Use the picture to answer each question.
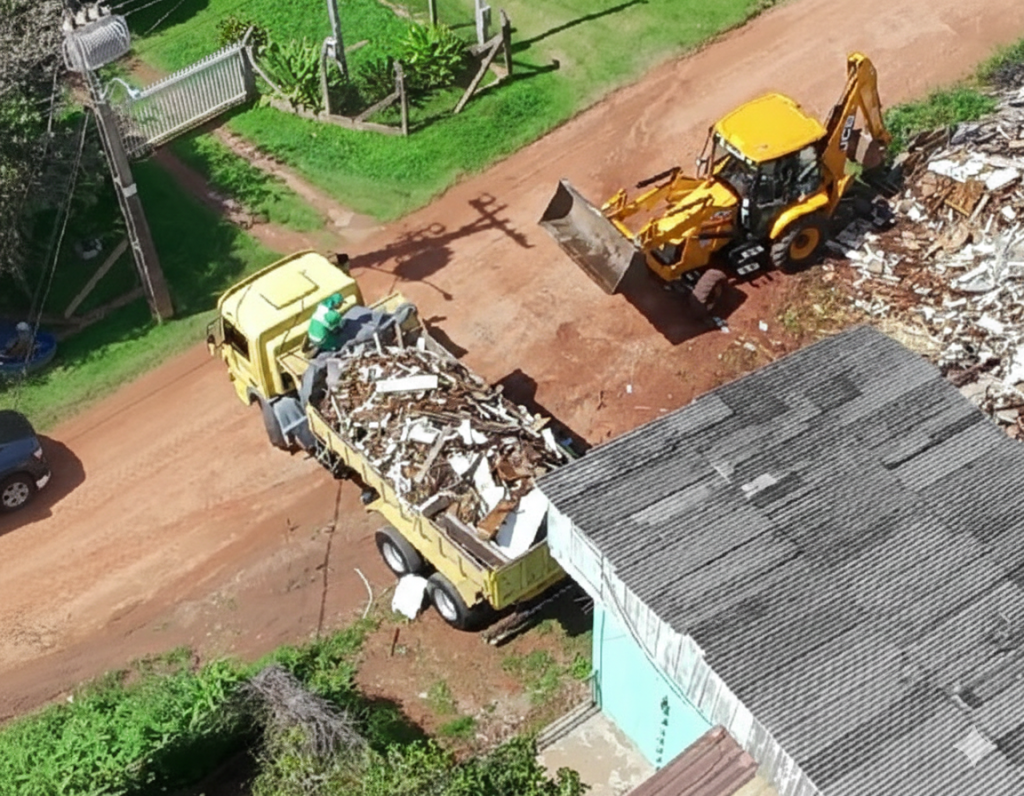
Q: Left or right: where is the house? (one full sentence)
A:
The house is on the right side of the image.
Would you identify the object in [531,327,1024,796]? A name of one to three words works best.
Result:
house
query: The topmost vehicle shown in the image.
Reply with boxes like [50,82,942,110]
[536,51,895,310]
